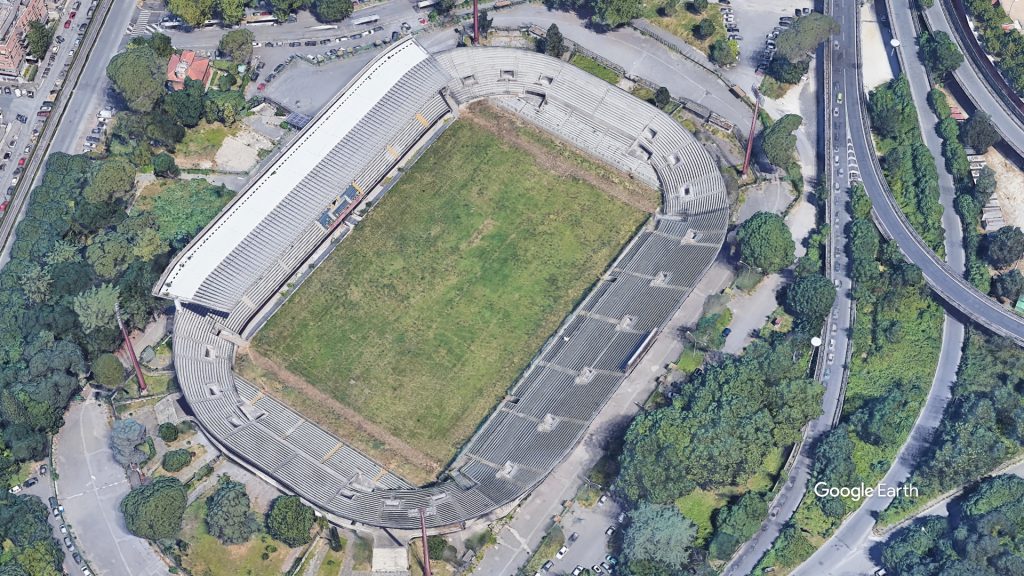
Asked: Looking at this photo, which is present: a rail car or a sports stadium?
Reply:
sports stadium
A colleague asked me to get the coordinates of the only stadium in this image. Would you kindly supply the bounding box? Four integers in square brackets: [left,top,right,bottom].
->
[152,38,731,533]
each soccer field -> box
[227,98,664,483]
